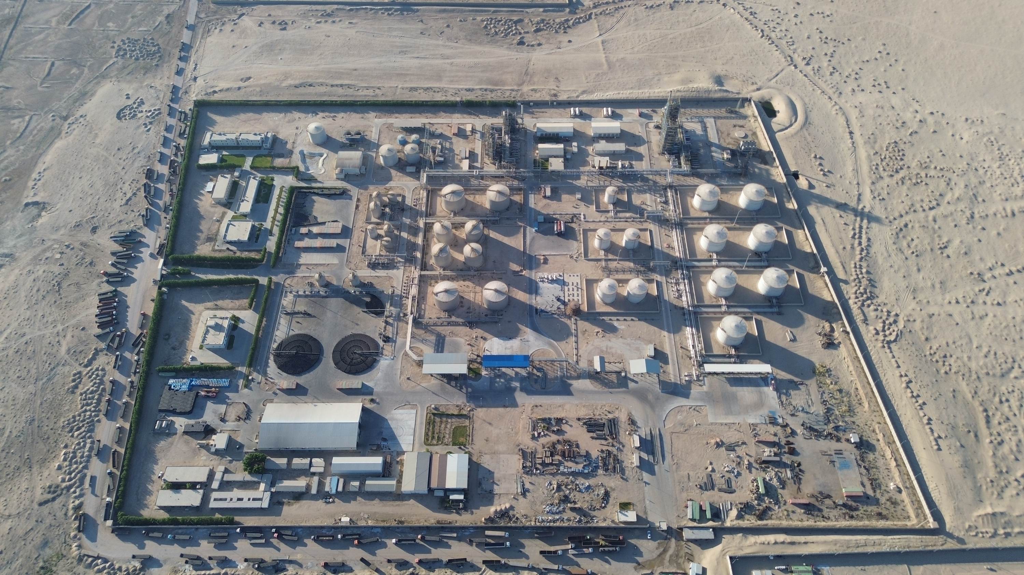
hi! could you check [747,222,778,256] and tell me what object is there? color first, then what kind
white storage tank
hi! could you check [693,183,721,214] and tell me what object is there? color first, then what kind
white storage tank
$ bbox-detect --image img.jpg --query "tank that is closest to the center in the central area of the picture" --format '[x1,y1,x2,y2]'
[482,280,510,316]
